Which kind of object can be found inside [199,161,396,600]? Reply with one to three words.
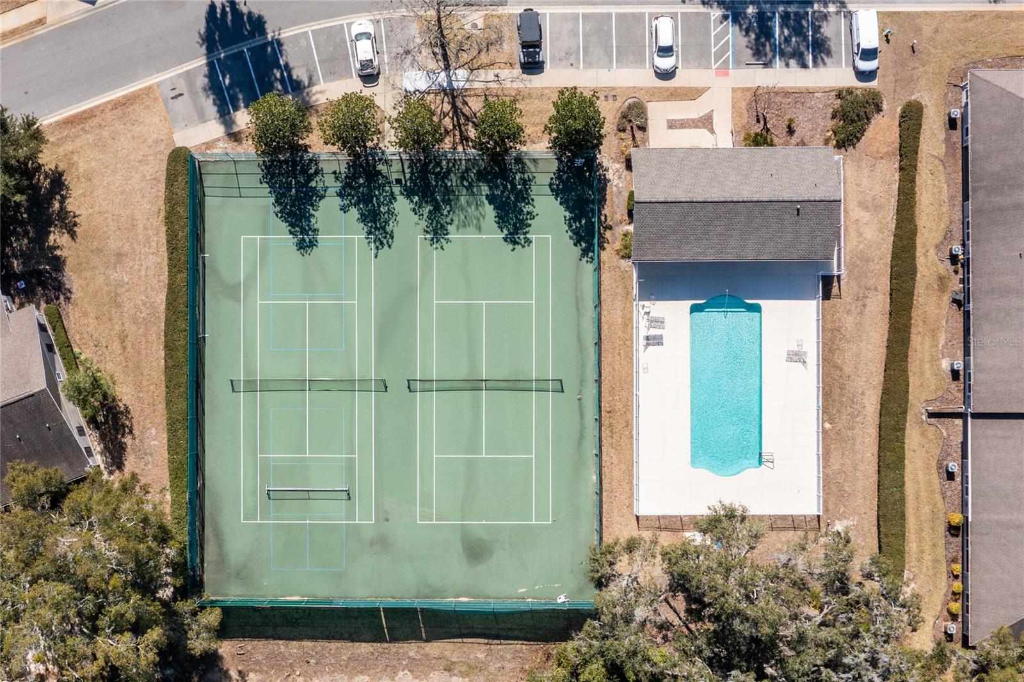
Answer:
tennis court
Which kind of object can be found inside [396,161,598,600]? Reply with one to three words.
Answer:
tennis court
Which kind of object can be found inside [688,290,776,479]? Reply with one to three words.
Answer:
swimming pool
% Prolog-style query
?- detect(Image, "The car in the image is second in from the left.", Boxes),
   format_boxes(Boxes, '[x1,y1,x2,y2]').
[518,7,544,67]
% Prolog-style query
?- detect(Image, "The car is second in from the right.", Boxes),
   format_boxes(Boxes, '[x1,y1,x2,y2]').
[651,16,680,74]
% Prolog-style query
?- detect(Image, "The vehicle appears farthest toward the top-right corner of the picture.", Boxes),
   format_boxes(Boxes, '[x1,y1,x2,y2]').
[849,7,882,72]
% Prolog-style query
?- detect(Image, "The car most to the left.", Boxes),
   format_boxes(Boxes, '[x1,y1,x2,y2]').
[351,20,379,76]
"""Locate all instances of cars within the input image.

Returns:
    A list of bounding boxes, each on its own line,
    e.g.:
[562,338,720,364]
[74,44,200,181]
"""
[351,20,379,76]
[651,16,680,74]
[849,7,882,72]
[518,7,544,67]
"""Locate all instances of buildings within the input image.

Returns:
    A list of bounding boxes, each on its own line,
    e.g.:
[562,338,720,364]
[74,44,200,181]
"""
[0,303,99,506]
[946,69,1024,639]
[632,147,841,262]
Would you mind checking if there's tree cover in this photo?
Yes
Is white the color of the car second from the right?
Yes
